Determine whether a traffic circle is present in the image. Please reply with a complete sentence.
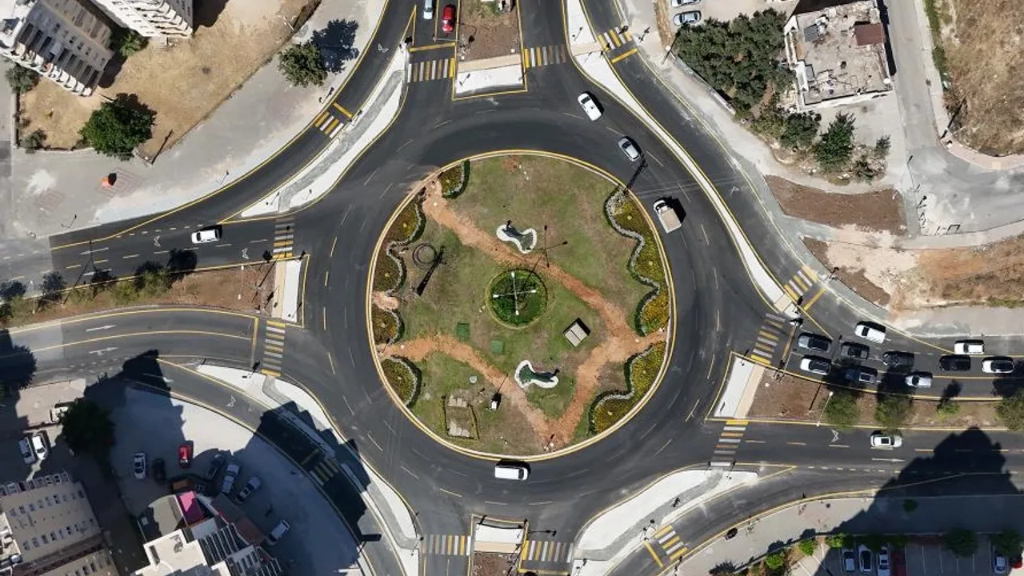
Yes, there's a traffic circle down there.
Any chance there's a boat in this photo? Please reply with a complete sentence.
No, the picture doesn't show any boat.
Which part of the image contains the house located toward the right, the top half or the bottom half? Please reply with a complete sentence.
It is in the top half that the house located toward the right appears.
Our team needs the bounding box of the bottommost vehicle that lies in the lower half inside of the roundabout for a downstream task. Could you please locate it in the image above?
[494,464,529,480]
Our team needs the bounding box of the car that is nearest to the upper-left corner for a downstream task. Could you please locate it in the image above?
[192,228,222,243]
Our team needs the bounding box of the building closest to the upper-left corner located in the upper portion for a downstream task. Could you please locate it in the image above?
[0,0,118,94]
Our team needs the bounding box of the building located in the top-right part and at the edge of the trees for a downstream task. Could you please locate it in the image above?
[777,0,894,114]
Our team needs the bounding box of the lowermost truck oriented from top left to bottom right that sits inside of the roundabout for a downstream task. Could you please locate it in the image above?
[651,198,681,234]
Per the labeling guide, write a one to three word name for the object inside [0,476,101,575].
building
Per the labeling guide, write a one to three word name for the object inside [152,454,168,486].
car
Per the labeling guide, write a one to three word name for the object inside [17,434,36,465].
car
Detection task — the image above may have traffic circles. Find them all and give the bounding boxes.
[305,90,739,524]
